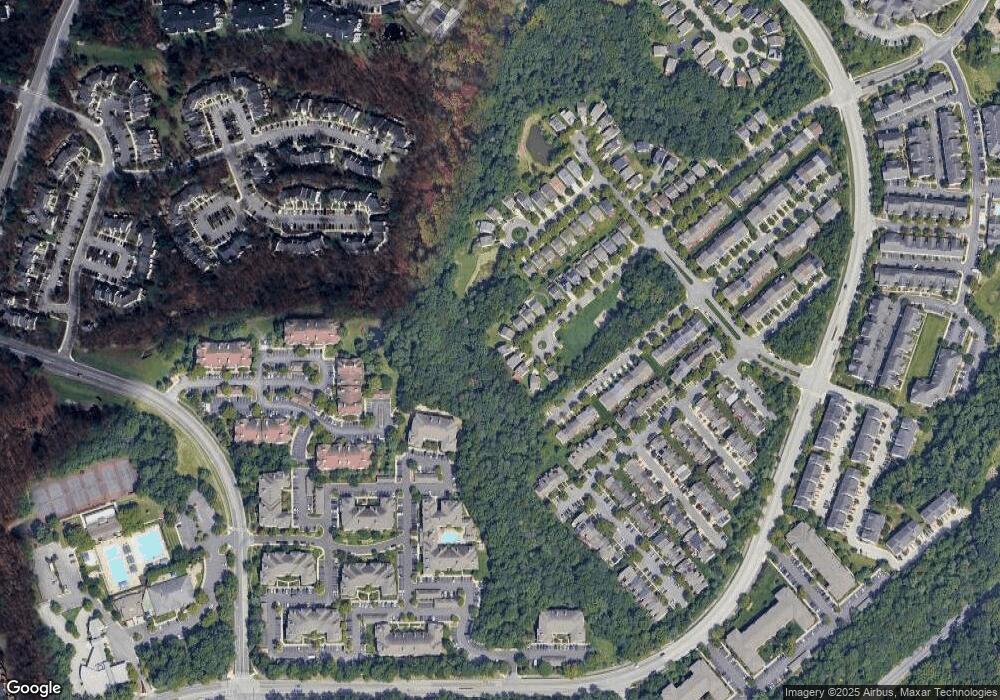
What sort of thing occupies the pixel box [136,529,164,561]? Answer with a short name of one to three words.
swimming pool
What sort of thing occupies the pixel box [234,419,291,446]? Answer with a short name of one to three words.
building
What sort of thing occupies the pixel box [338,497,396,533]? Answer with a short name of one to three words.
building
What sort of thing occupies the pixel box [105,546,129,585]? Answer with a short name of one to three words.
swimming pool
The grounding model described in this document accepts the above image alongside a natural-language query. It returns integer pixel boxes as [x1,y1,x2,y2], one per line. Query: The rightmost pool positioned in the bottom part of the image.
[440,529,461,544]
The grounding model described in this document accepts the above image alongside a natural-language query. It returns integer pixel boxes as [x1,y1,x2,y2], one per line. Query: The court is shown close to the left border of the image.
[31,459,139,521]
